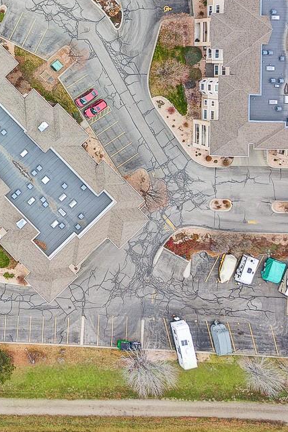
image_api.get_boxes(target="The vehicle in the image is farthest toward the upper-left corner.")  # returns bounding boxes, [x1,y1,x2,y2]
[75,89,100,107]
